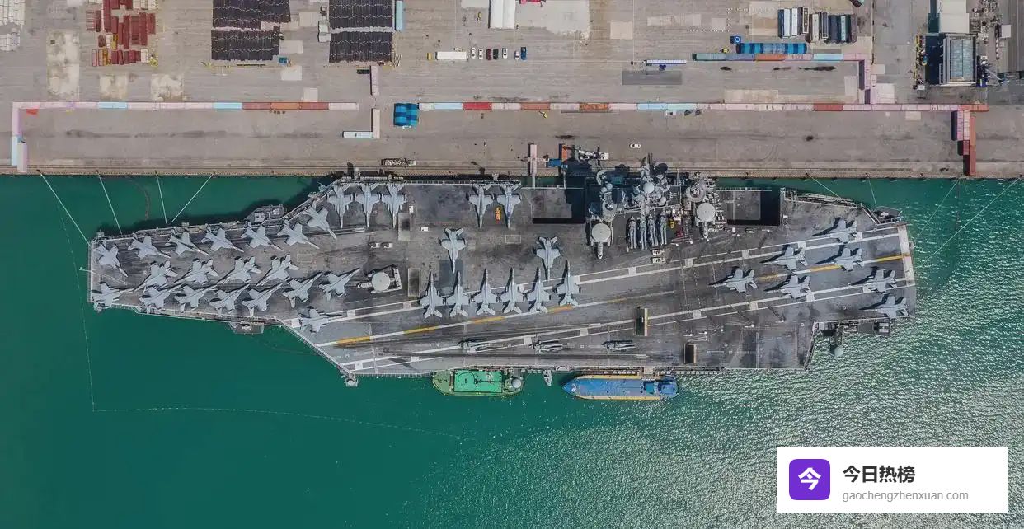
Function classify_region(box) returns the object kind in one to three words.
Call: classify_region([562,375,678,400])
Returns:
ship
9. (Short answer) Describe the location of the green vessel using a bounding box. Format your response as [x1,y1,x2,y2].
[432,369,524,397]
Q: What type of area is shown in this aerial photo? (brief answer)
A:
port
